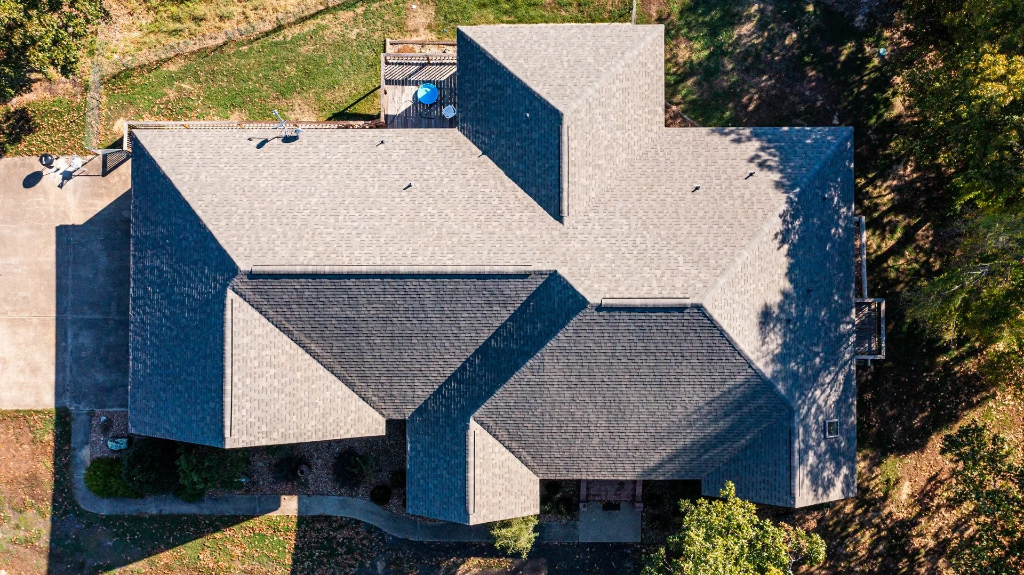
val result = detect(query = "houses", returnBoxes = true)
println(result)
[129,23,857,525]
